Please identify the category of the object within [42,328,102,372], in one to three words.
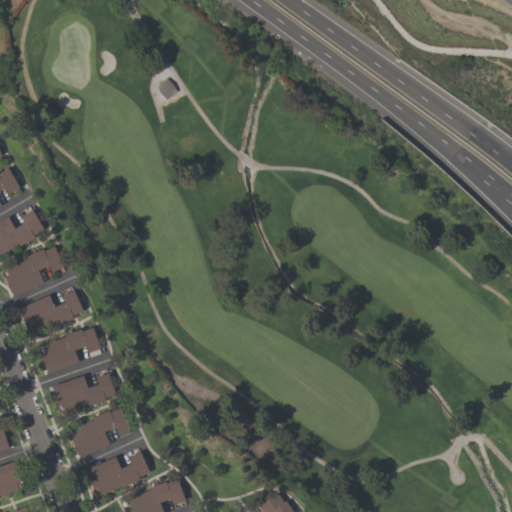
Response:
house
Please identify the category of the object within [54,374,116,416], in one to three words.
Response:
house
